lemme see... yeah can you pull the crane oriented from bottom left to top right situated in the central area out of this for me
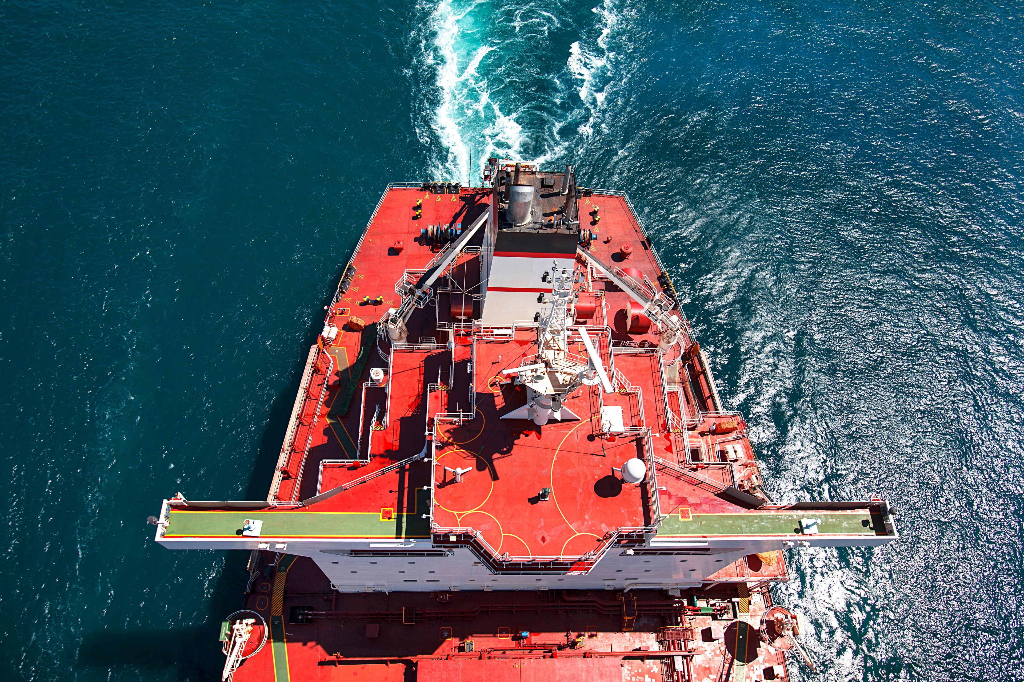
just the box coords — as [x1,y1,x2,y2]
[368,196,490,354]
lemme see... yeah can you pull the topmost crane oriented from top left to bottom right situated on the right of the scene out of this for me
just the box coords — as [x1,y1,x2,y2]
[575,236,699,366]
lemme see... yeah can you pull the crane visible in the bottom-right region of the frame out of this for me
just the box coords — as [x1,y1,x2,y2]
[772,612,816,677]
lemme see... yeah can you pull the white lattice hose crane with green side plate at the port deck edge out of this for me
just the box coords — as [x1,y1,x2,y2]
[220,618,256,682]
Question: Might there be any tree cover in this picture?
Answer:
No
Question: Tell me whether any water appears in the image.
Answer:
Yes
